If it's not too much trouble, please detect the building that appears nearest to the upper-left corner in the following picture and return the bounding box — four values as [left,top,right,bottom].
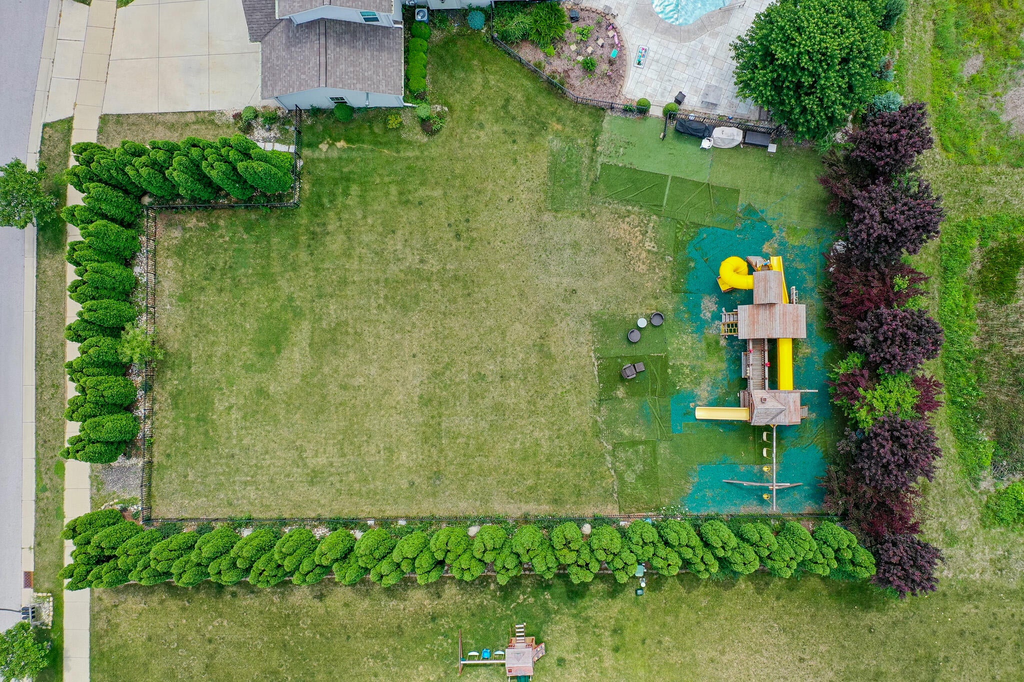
[241,0,494,111]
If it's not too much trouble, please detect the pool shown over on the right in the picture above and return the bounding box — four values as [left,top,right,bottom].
[629,0,746,42]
